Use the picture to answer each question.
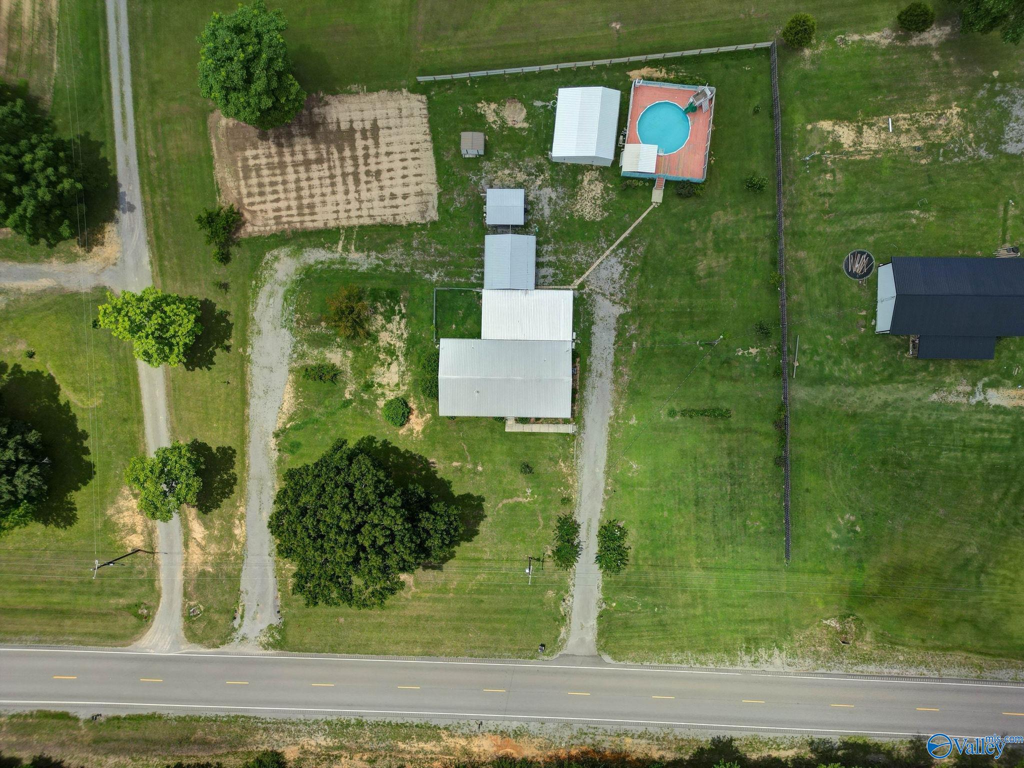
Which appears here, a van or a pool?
pool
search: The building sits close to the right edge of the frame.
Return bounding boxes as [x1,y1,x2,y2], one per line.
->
[876,256,1024,360]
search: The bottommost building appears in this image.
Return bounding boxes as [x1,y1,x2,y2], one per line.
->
[439,339,573,418]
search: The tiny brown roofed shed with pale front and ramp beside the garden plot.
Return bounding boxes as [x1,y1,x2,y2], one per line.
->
[461,131,484,157]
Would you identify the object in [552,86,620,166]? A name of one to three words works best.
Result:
barn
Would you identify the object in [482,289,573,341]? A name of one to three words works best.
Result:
house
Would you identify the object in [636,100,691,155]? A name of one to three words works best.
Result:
swimming pool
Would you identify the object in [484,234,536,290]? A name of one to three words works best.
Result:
building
